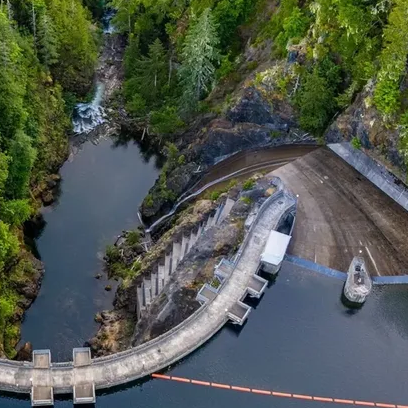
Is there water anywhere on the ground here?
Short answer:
Yes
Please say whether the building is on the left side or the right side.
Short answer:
right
